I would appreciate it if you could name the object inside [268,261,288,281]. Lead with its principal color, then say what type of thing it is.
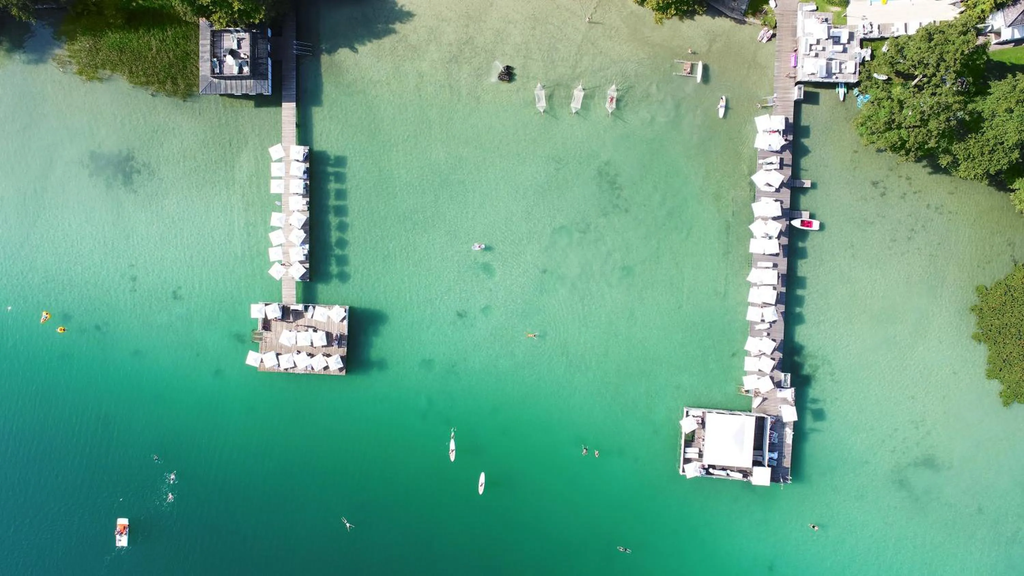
white umbrella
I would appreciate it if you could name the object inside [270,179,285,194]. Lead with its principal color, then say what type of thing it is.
white umbrella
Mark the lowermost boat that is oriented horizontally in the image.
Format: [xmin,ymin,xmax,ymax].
[792,218,821,230]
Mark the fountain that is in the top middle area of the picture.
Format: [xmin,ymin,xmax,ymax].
[489,62,514,82]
